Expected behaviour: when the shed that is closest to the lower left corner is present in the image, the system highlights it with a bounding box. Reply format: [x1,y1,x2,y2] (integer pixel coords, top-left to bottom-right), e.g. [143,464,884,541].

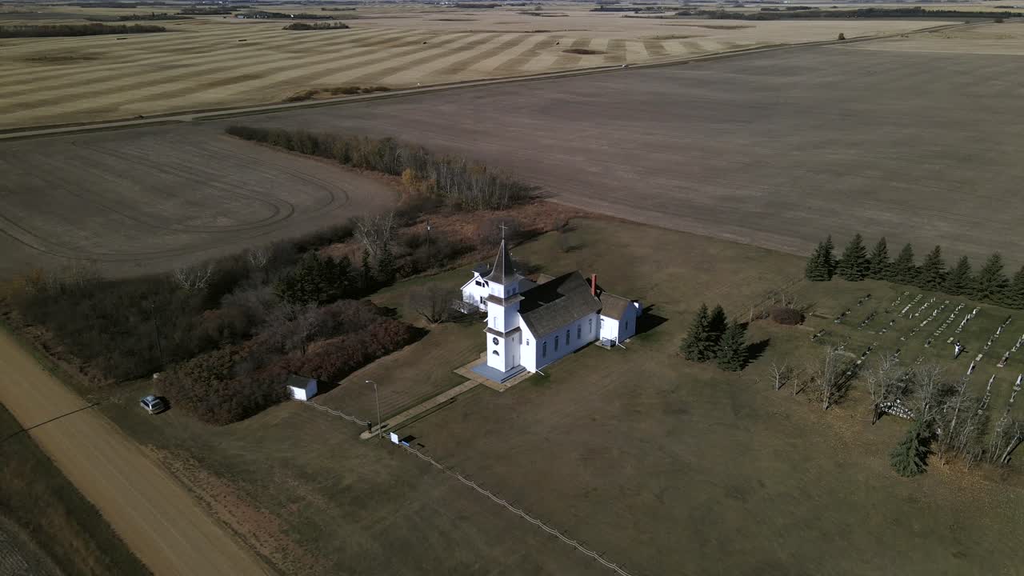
[289,375,320,402]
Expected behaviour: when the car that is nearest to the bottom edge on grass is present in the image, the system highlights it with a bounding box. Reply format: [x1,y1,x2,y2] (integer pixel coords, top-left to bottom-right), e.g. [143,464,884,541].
[141,394,166,412]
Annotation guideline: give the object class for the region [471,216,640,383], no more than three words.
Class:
church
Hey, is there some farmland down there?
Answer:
Yes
